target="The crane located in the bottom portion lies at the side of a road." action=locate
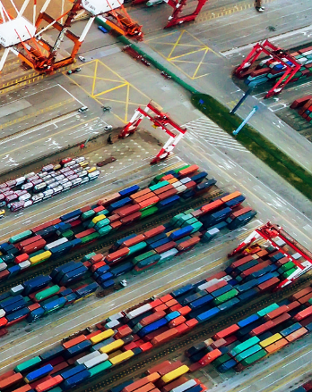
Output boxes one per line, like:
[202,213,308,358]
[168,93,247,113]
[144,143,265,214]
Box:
[229,222,312,296]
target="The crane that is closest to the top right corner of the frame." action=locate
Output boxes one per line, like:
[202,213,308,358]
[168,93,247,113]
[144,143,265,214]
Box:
[235,40,303,97]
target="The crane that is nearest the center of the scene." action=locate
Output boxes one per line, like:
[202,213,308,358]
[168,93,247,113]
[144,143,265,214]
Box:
[121,102,188,164]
